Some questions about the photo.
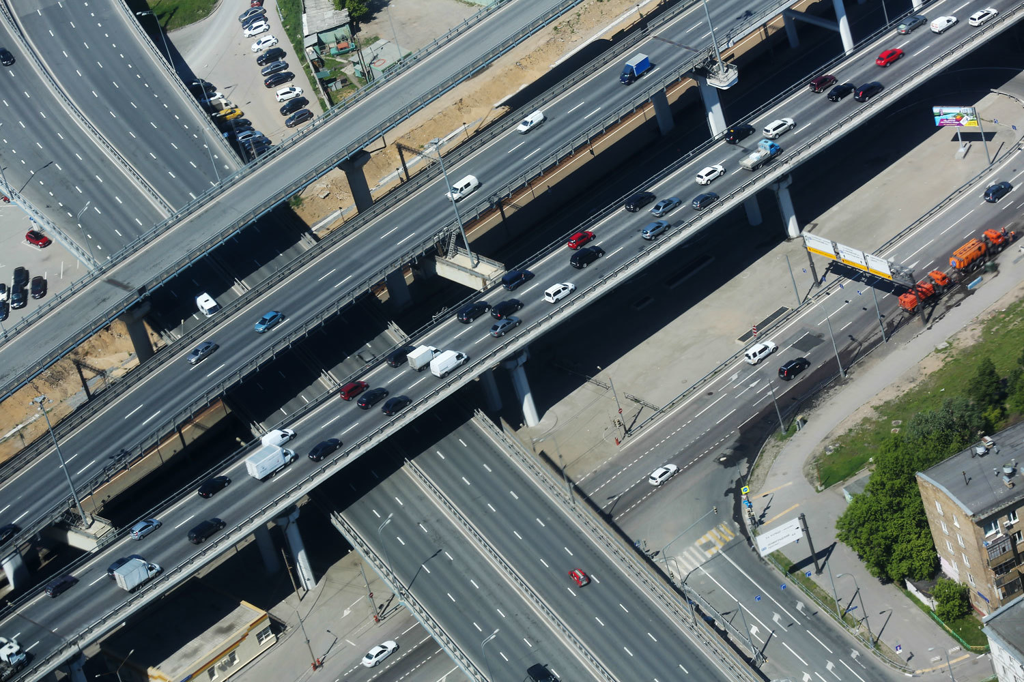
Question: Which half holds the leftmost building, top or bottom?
bottom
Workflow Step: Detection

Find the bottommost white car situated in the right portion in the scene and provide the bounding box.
[648,464,678,486]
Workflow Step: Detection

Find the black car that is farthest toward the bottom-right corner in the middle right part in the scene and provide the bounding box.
[777,357,810,381]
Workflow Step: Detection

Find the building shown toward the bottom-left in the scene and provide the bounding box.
[104,573,279,682]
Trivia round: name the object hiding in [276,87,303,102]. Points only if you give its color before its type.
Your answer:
white car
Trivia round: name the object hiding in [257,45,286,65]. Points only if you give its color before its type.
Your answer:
black car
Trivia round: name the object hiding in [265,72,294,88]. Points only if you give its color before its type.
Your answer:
black car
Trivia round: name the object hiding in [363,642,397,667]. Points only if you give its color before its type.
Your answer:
white car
